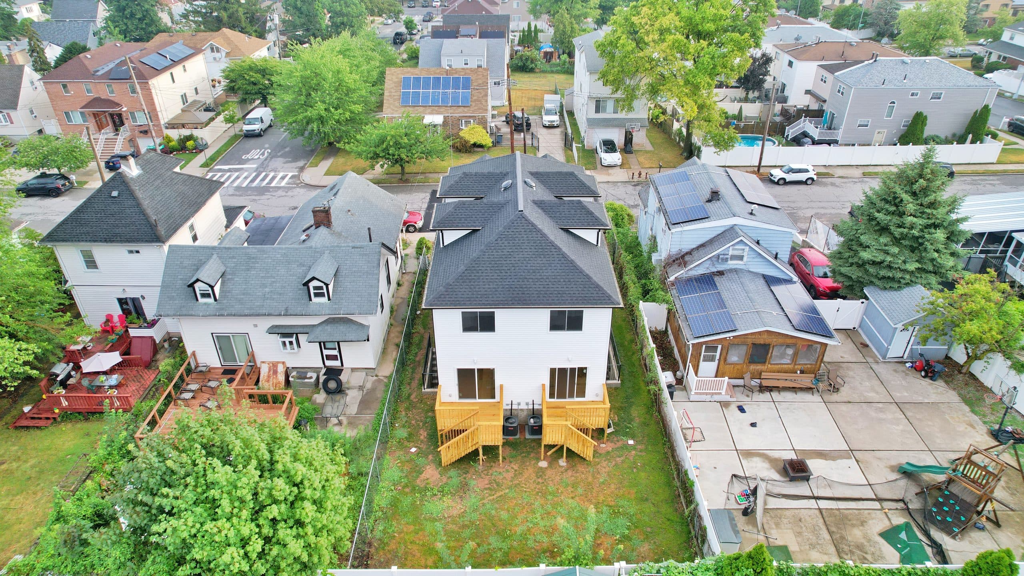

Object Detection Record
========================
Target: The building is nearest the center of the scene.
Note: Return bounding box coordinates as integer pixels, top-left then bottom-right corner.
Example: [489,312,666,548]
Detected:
[418,149,627,423]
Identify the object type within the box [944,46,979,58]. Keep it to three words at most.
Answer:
vehicle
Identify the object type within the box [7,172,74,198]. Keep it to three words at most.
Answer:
car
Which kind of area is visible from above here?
residential area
